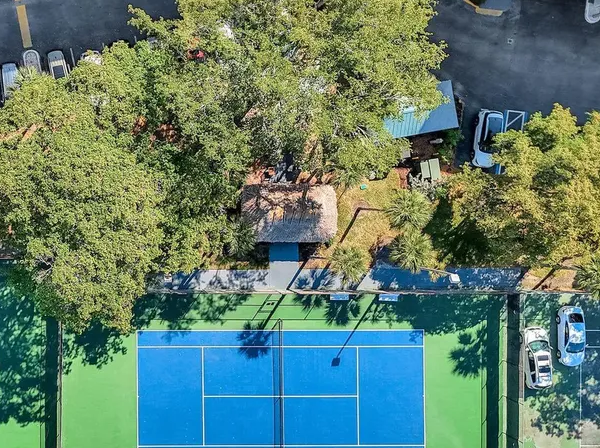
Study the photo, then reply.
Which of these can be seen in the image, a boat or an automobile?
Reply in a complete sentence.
Visible in the photo is an automobile.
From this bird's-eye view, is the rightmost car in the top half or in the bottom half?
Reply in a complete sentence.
The rightmost car sits in the bottom half of the picture.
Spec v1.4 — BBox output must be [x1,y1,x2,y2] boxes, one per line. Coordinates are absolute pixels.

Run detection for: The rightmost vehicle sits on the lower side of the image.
[553,306,587,367]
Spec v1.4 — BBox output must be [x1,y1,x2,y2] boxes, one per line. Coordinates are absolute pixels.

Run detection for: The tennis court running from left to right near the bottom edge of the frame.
[63,292,506,448]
